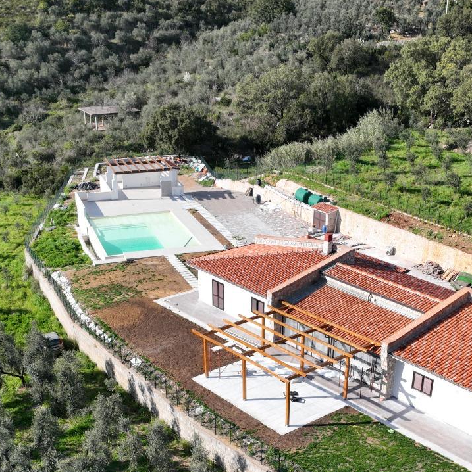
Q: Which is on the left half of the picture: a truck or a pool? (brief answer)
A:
pool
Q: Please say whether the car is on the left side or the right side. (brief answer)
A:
left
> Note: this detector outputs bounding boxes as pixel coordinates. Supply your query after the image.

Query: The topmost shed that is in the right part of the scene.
[313,199,343,232]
